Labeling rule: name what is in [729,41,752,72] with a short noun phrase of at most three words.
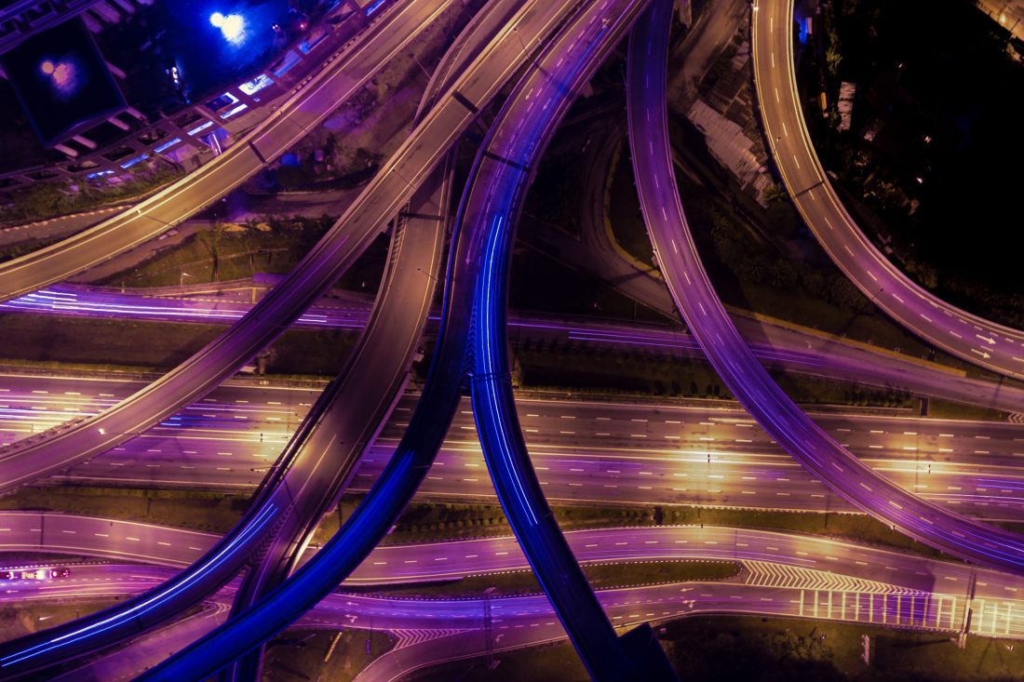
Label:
shed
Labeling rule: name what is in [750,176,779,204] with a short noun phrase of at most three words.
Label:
shed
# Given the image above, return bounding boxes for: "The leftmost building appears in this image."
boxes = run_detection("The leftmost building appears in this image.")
[0,14,133,158]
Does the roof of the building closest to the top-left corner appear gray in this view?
No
